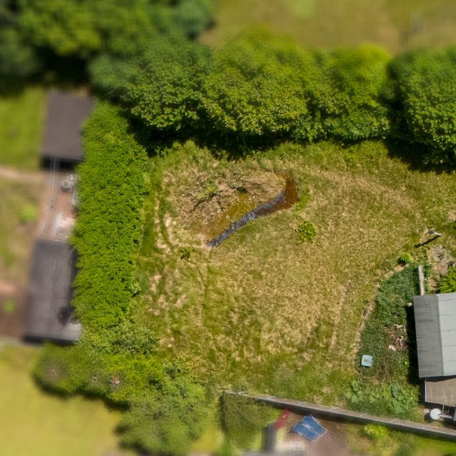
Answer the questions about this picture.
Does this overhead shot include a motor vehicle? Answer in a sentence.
No, I can see no motor vehicle in this picture.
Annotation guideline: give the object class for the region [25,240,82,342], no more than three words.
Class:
shed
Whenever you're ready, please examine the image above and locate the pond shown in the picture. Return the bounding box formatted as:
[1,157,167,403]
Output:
[197,172,302,247]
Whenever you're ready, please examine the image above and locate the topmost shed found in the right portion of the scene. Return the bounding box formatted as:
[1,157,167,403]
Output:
[413,293,456,378]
